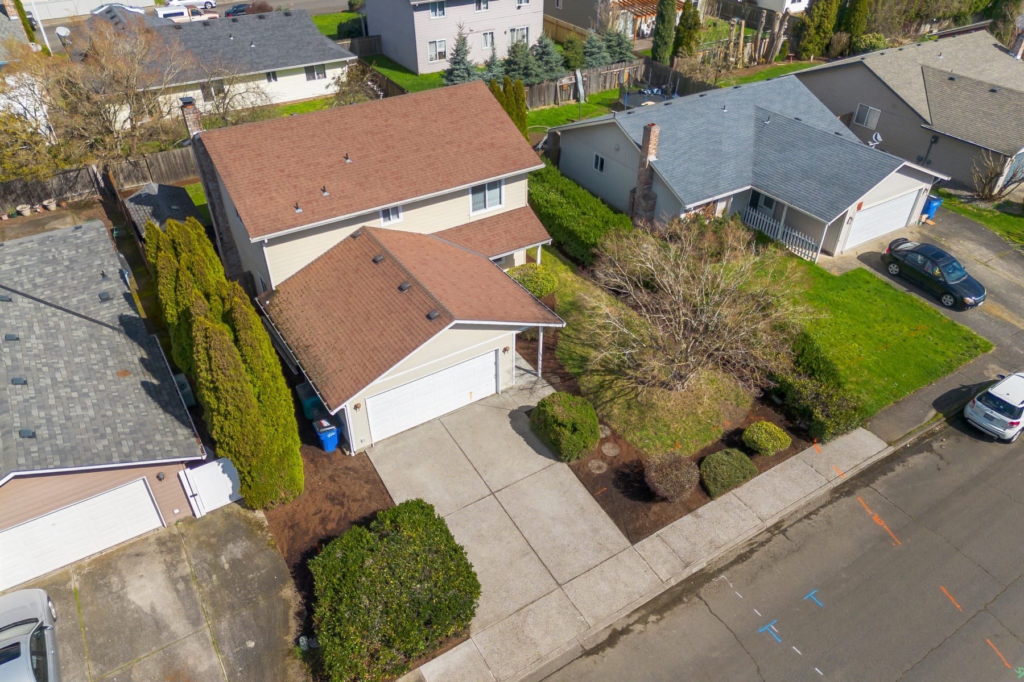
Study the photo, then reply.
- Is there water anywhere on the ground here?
No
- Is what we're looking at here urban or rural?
urban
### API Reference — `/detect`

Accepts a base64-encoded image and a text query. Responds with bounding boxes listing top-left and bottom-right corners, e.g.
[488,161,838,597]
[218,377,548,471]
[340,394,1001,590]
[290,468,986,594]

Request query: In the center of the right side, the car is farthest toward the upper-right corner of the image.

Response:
[886,242,991,309]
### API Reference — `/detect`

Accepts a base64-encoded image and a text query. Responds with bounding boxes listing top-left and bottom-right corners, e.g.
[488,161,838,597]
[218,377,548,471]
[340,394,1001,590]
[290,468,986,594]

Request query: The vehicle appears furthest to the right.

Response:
[962,376,1024,449]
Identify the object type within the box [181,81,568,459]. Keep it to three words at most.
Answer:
house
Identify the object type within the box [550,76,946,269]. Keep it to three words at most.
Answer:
house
